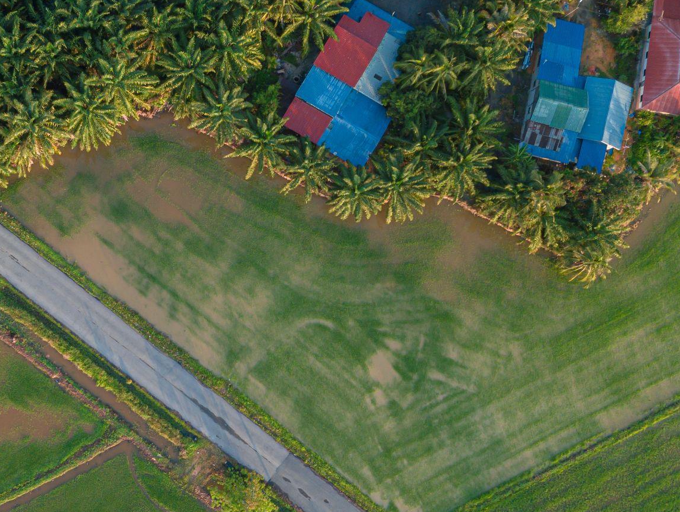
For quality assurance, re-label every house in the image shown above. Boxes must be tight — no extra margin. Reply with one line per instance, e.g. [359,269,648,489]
[282,0,406,166]
[634,0,680,114]
[517,18,634,174]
